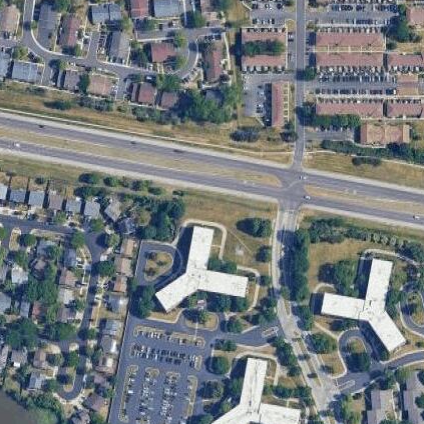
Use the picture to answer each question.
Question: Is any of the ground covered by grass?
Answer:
Yes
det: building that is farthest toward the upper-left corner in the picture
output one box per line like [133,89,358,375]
[0,4,21,35]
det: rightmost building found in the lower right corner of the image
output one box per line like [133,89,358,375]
[404,371,424,424]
